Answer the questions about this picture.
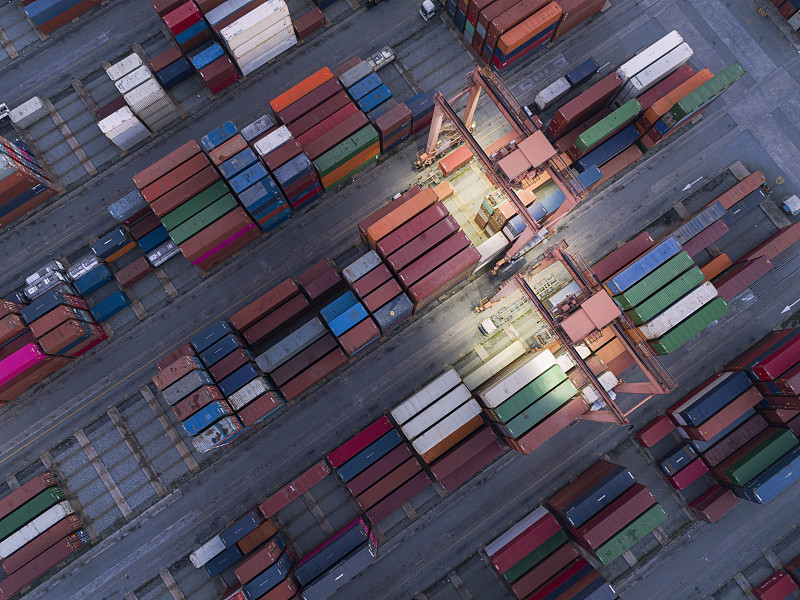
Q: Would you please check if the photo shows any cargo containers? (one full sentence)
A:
Yes, the photo shows a cargo container.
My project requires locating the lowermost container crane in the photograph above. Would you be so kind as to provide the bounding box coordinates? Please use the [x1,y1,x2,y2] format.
[471,235,680,435]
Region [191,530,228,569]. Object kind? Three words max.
shipping container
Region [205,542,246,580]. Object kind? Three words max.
shipping container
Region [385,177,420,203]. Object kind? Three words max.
truck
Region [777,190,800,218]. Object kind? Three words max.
truck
